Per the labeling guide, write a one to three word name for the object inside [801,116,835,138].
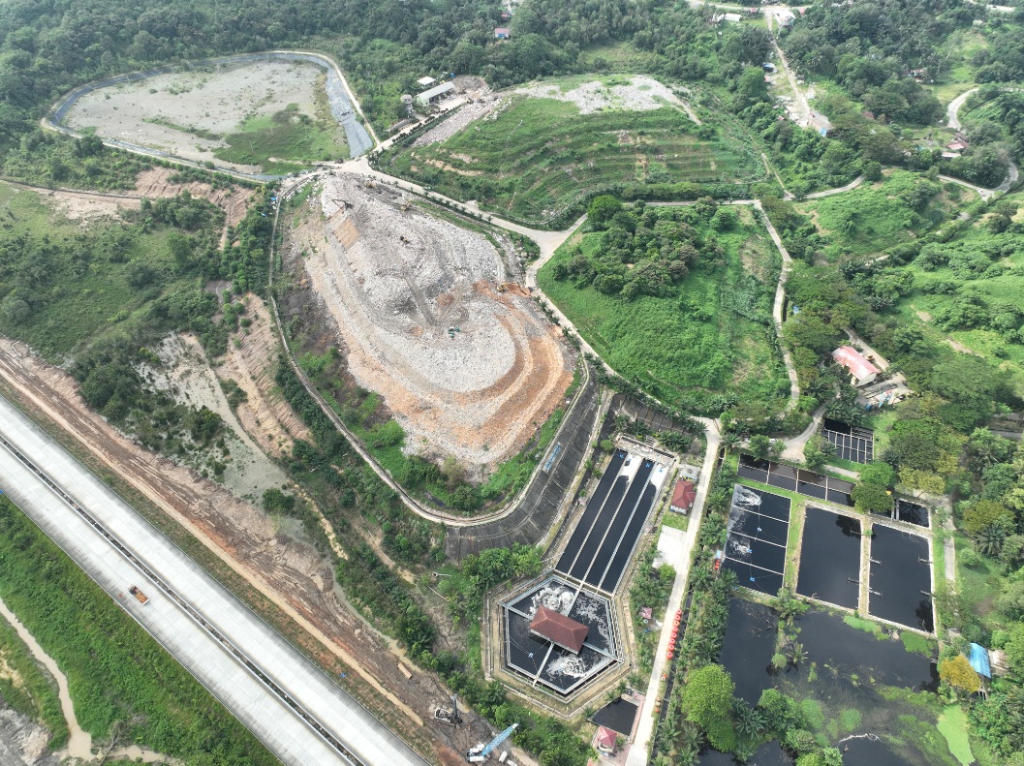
barn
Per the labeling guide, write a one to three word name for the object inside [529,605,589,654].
building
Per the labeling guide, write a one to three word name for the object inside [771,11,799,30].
house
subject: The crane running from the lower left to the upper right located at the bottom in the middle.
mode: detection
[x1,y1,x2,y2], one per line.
[461,722,520,766]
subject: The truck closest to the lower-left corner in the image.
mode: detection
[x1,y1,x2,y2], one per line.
[125,581,150,605]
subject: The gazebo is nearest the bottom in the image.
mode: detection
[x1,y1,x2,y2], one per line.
[595,725,619,753]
